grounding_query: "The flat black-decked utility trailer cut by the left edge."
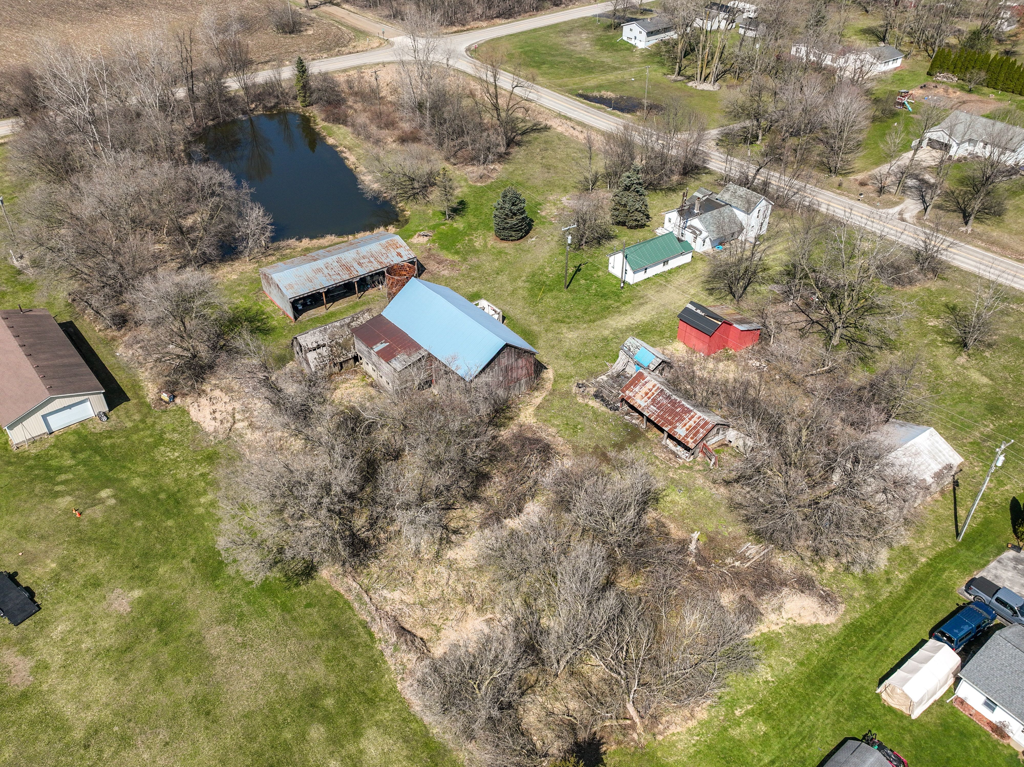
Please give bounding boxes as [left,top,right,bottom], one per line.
[0,586,40,627]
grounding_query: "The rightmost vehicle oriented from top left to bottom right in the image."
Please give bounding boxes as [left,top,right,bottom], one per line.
[966,579,1024,626]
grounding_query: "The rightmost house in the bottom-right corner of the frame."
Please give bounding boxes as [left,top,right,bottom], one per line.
[945,621,1024,747]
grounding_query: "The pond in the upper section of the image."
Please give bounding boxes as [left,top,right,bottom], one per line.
[192,113,402,258]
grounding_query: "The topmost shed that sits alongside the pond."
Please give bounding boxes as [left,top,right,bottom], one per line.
[258,232,419,320]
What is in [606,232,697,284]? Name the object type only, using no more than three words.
building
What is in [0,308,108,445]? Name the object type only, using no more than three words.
building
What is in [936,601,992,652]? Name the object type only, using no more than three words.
truck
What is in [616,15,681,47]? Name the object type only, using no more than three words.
house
